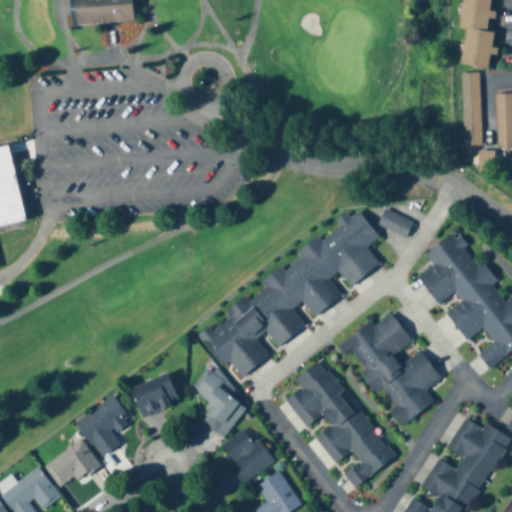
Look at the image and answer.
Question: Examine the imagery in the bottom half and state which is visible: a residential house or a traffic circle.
residential house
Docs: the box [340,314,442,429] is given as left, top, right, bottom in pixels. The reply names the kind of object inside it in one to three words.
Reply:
house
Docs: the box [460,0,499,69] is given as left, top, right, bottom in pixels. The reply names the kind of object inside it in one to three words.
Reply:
building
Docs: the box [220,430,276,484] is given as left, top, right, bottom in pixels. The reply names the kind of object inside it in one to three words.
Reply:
house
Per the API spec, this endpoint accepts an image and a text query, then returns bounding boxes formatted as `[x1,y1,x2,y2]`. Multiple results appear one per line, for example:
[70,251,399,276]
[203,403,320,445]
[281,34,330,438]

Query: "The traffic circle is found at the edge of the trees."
[172,51,237,128]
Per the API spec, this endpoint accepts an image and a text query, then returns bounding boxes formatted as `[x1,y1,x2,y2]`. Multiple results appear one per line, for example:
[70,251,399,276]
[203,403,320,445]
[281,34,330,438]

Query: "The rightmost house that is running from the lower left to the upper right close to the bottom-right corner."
[406,414,512,512]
